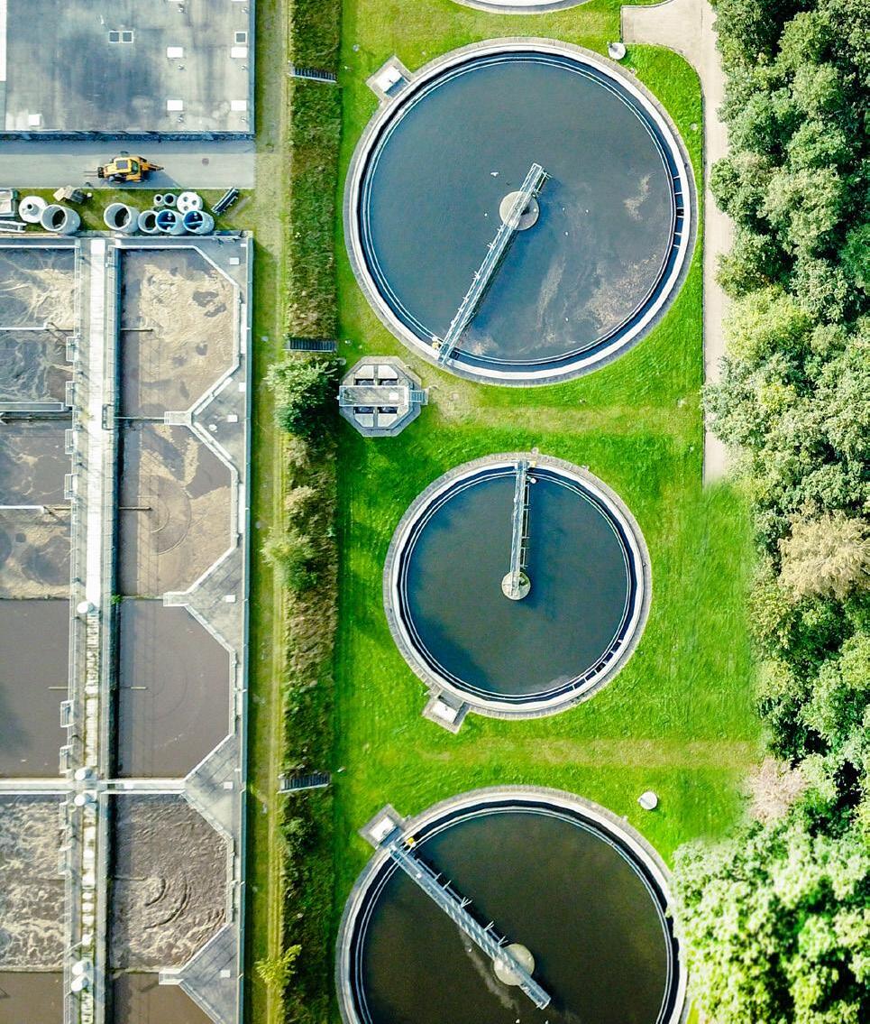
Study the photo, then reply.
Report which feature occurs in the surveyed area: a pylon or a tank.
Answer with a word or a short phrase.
tank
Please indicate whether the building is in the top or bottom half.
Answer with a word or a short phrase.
top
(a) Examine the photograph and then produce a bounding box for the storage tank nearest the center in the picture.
[383,452,651,720]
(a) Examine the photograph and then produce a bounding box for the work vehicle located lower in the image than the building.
[96,149,165,186]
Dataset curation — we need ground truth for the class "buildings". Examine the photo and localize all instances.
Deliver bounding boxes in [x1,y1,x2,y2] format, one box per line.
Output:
[0,0,253,142]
